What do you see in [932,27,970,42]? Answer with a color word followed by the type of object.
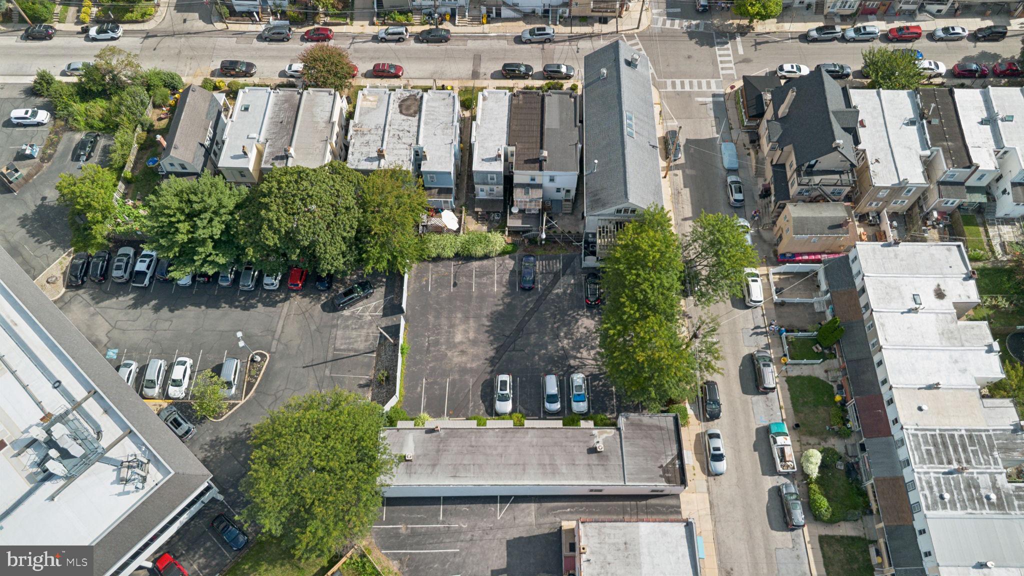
gray car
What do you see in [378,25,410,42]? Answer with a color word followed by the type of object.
gray car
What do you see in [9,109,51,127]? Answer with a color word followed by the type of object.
white car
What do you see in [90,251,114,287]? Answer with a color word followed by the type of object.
black car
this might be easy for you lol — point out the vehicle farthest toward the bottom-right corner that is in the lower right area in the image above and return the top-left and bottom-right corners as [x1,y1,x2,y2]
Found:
[776,483,807,529]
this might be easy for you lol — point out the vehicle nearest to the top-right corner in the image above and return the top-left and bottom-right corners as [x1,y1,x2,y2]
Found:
[973,25,1010,42]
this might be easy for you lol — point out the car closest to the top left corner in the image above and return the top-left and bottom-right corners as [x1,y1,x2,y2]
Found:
[23,24,58,41]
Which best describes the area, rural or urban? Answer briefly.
urban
